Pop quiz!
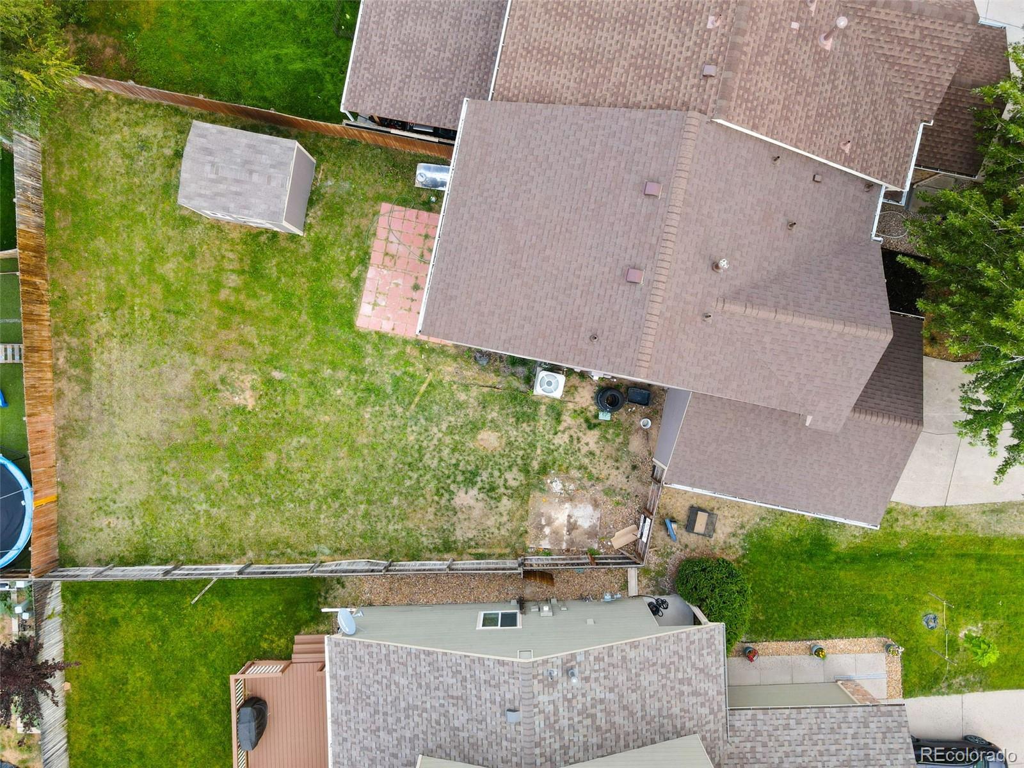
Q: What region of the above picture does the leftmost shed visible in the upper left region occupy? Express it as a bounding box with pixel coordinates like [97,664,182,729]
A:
[178,121,316,235]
